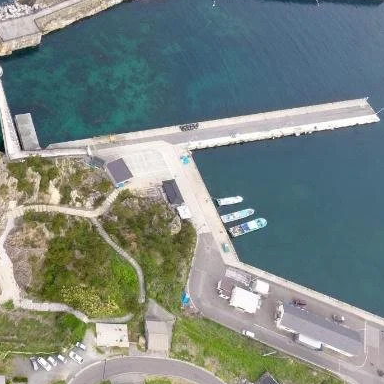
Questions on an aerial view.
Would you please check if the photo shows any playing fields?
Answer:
No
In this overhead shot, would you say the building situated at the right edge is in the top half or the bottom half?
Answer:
bottom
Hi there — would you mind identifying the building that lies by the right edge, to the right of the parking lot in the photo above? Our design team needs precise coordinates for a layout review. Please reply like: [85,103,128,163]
[274,304,365,358]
